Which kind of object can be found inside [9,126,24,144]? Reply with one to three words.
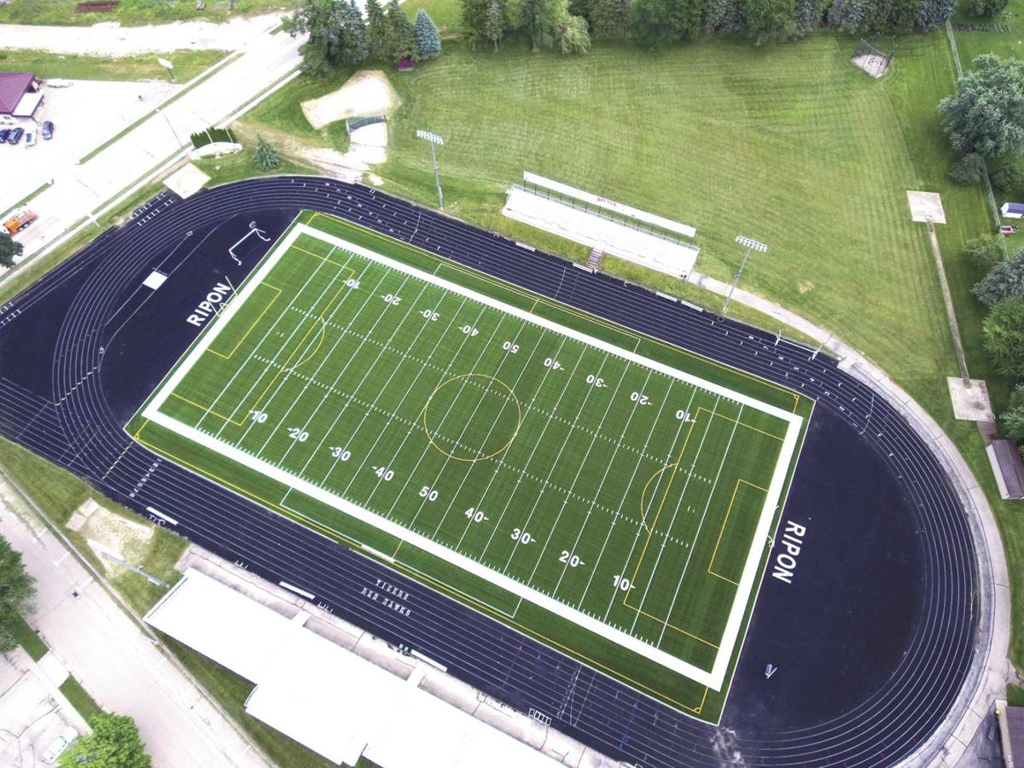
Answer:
car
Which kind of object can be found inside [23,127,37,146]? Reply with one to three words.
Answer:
car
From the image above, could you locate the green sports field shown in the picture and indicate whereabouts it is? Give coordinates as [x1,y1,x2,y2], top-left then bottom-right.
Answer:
[122,208,816,724]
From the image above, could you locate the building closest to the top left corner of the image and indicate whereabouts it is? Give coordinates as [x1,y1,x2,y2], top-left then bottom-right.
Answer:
[0,72,51,126]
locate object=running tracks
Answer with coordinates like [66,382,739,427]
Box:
[0,176,981,768]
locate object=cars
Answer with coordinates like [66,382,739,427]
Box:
[41,726,77,764]
[9,126,24,144]
[42,121,54,138]
[0,127,11,143]
[23,127,37,146]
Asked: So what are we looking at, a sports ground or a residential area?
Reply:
sports ground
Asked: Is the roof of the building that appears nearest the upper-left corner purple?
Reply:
Yes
